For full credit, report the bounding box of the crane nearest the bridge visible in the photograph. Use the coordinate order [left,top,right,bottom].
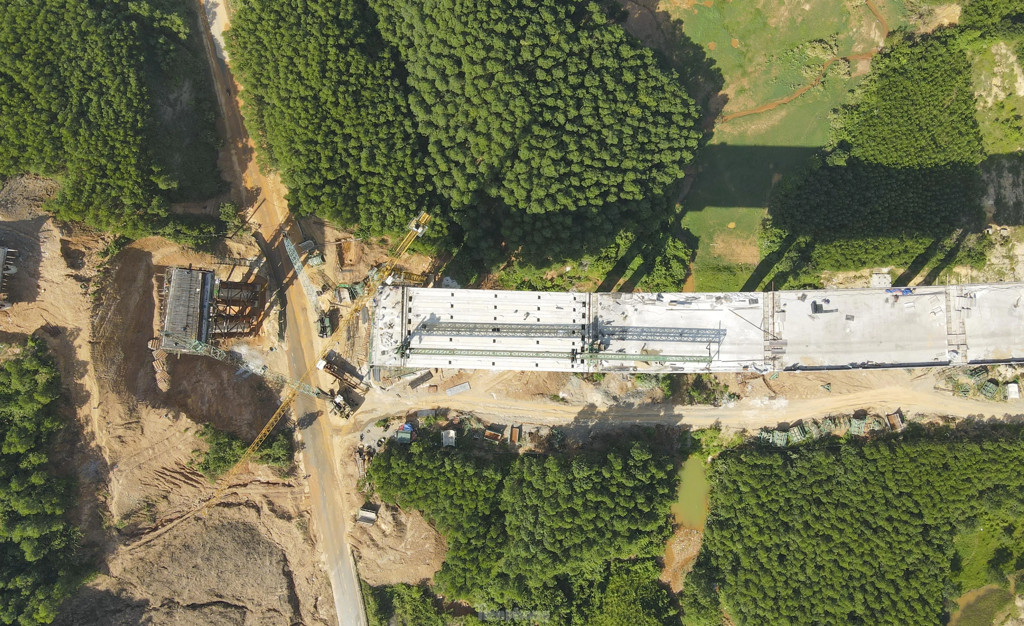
[200,210,437,516]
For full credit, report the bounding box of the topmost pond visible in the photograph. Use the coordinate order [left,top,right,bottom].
[671,456,709,529]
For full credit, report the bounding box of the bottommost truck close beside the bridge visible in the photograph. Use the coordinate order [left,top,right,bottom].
[316,362,373,401]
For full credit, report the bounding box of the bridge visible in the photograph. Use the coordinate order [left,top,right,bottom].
[371,281,1024,373]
